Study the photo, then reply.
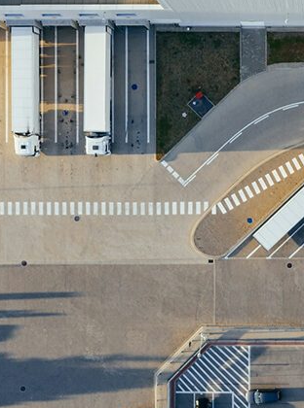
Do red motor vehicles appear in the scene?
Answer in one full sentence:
No, the photo shows no red motor vehicle.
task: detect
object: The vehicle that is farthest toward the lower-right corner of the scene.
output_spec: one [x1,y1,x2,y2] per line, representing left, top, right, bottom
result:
[252,387,281,405]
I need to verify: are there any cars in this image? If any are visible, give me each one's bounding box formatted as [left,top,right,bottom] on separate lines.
[196,396,214,408]
[252,387,281,405]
